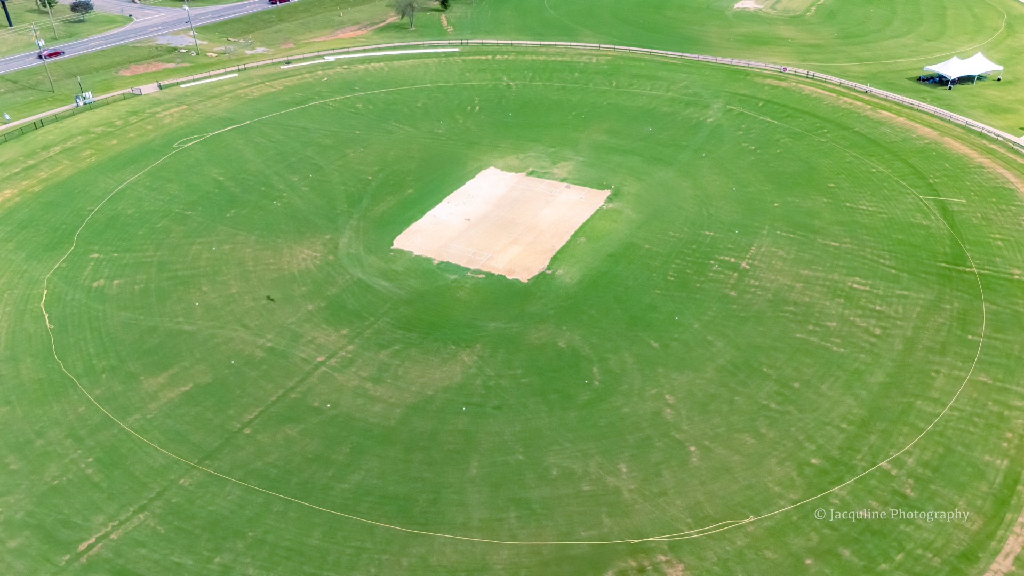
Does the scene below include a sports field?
Yes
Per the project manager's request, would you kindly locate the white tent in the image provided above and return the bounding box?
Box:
[917,52,1005,89]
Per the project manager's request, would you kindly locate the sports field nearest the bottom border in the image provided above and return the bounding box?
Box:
[392,166,612,282]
